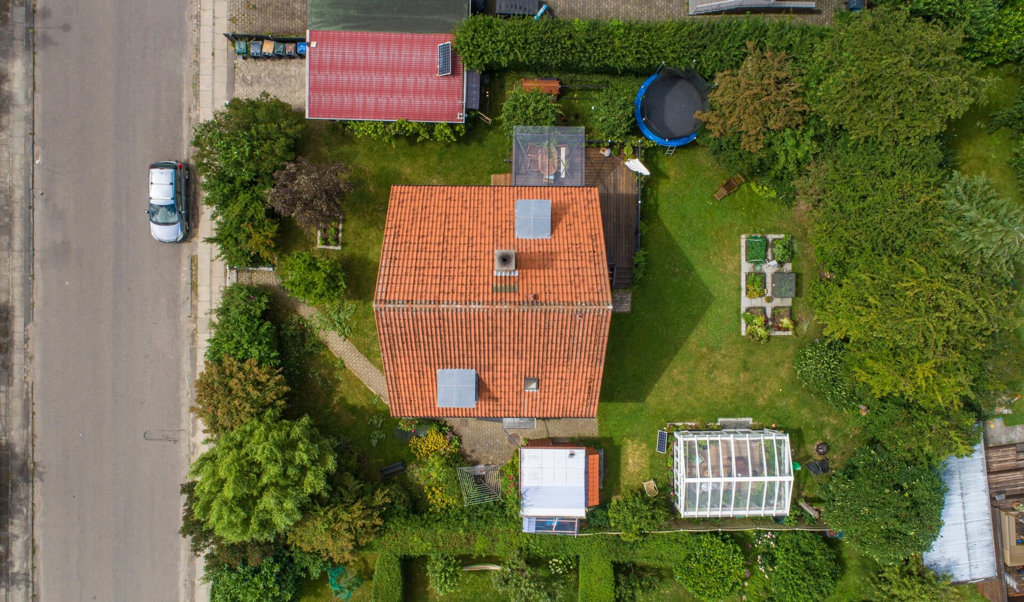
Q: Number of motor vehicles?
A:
1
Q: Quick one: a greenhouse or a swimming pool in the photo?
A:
greenhouse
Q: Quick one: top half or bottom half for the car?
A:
top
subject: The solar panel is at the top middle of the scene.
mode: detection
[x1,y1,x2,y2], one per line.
[438,42,452,76]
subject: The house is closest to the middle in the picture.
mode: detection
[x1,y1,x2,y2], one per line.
[372,183,614,429]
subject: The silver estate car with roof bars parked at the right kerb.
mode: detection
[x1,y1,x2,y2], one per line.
[143,161,192,244]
